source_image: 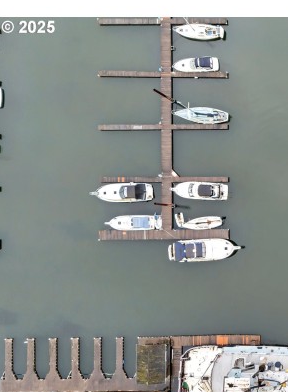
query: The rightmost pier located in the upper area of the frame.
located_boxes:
[98,0,230,241]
